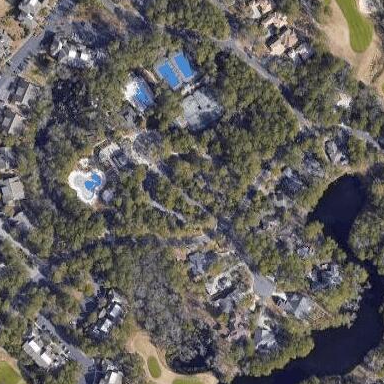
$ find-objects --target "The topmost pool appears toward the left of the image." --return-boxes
[126,77,155,112]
